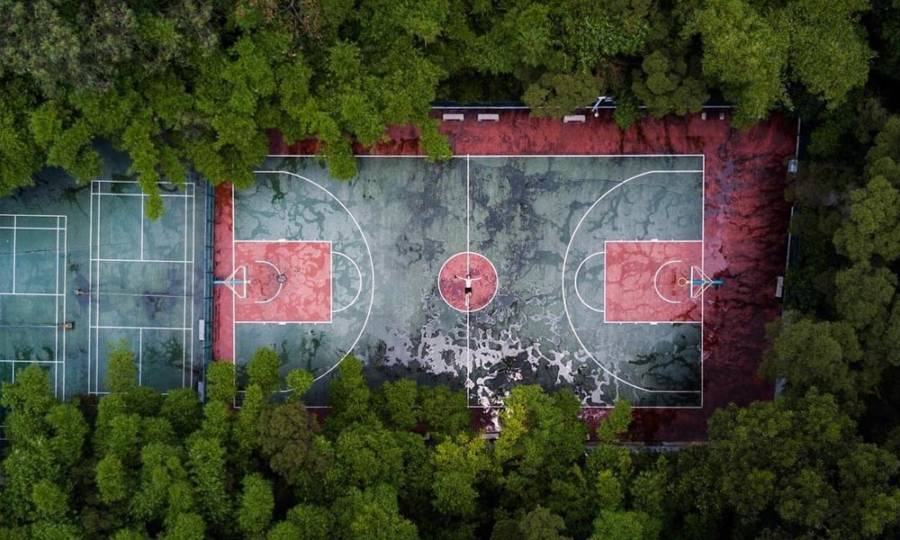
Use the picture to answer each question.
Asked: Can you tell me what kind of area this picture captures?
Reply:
sports ground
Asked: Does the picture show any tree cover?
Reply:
Yes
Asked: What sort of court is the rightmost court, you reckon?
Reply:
basketball court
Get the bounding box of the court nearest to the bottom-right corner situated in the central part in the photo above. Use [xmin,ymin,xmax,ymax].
[215,108,799,441]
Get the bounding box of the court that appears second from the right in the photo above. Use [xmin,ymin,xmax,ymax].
[88,180,194,406]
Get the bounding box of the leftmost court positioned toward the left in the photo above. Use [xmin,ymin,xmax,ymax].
[0,214,67,425]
